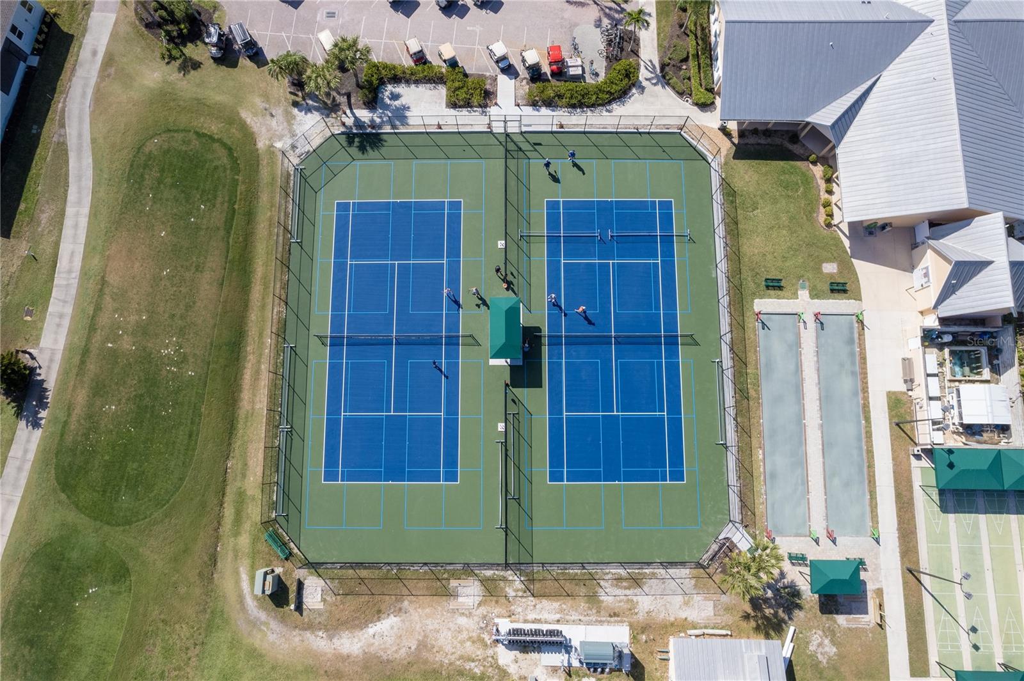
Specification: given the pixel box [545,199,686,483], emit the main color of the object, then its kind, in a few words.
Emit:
blue tennis court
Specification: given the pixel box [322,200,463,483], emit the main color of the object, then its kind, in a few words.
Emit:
blue tennis court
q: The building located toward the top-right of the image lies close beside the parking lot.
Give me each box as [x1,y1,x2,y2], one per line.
[709,0,1024,231]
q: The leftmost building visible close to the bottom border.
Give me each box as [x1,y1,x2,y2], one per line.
[571,641,617,676]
